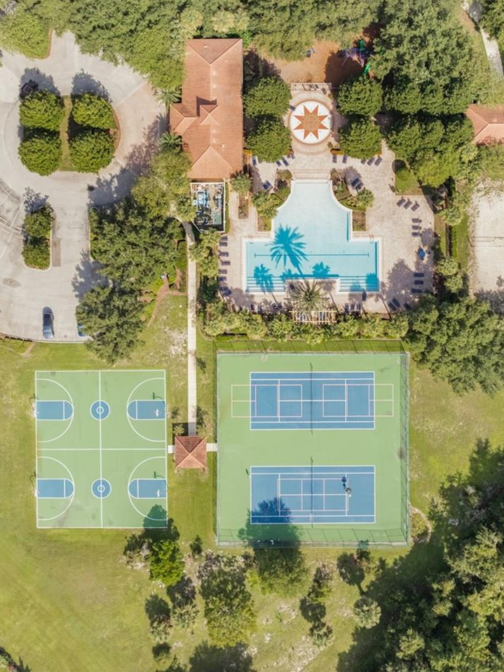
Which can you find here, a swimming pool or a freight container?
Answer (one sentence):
Visible in the photo is a swimming pool.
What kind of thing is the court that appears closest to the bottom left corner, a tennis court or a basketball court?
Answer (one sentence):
I'd identify the court that appears closest to the bottom left corner as a basketball court.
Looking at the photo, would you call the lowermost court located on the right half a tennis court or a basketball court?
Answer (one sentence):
From above, the lowermost court located on the right half can be identified as a tennis court.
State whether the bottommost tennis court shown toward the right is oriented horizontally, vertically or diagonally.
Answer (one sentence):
What the image shows is the bottommost tennis court shown toward the right lying horizontally.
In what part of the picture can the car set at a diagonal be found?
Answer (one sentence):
The car set at a diagonal sits in the top left section of the image.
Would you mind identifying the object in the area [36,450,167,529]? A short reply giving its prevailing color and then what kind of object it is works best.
green basketball court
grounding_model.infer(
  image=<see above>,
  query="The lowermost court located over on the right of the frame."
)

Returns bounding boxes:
[217,448,409,542]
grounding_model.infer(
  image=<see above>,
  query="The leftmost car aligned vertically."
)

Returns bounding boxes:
[42,312,54,337]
